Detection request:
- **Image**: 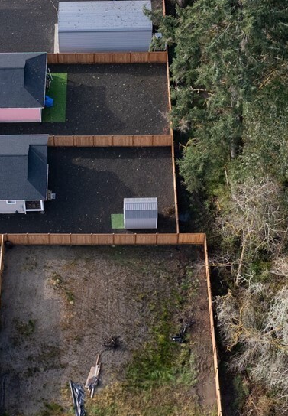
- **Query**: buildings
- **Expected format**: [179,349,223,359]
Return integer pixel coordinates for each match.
[57,0,151,51]
[0,53,48,122]
[0,135,49,212]
[123,201,158,228]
